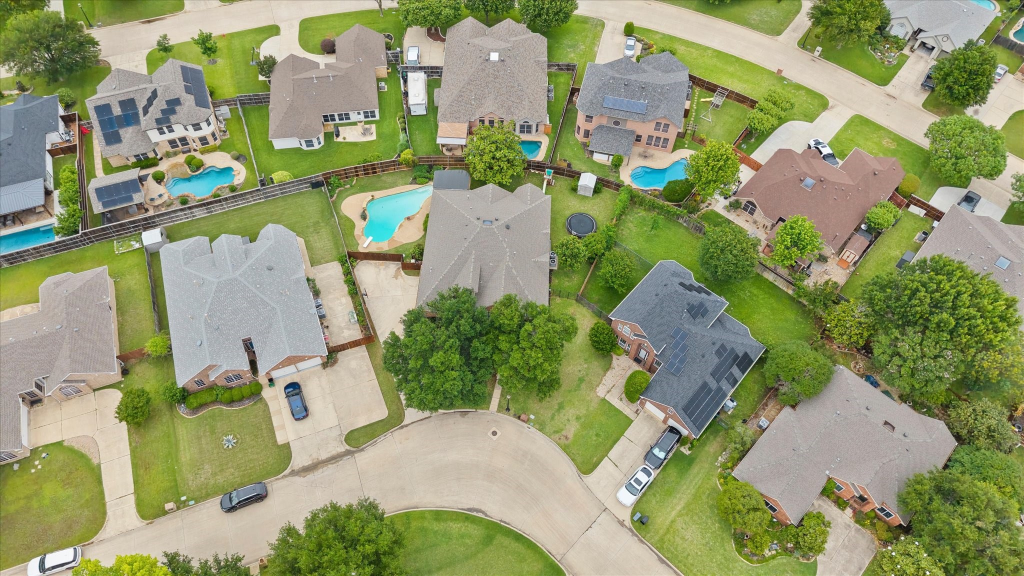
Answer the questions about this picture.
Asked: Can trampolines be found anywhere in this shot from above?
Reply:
Yes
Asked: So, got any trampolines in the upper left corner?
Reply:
No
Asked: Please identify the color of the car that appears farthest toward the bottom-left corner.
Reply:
white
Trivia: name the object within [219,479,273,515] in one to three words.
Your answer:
car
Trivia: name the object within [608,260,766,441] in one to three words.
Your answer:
house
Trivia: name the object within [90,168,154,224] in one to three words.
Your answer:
building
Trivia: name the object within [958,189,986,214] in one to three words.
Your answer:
truck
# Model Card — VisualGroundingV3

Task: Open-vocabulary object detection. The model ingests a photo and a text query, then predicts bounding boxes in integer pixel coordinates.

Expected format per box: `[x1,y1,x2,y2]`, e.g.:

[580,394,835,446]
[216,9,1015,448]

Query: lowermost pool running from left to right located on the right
[629,156,694,190]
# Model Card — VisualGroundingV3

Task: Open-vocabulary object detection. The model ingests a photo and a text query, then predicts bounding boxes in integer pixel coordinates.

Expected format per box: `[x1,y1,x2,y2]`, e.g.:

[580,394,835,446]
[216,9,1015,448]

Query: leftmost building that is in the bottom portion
[0,266,124,466]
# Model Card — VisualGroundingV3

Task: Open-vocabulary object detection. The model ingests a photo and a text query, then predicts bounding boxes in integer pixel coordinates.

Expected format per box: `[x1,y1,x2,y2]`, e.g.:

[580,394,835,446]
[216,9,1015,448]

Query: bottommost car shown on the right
[616,463,659,510]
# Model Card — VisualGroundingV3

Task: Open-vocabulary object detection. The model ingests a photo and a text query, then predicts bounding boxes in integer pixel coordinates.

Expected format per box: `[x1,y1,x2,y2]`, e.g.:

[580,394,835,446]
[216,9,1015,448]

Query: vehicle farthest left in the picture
[28,543,86,576]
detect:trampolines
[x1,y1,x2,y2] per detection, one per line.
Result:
[566,208,597,238]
